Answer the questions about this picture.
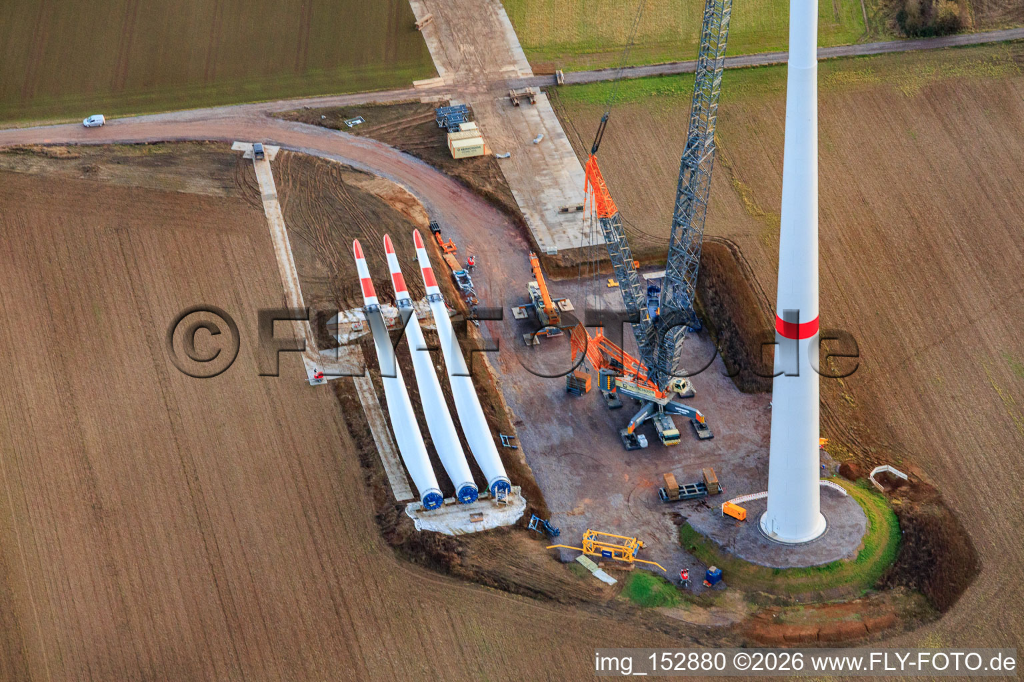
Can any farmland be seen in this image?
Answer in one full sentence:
Yes, farmland shows up in the scene.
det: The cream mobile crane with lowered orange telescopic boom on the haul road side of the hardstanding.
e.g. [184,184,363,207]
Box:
[520,251,575,341]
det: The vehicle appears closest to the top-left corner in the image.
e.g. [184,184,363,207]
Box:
[82,114,106,128]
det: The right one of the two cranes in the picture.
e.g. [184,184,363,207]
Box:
[568,0,733,446]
